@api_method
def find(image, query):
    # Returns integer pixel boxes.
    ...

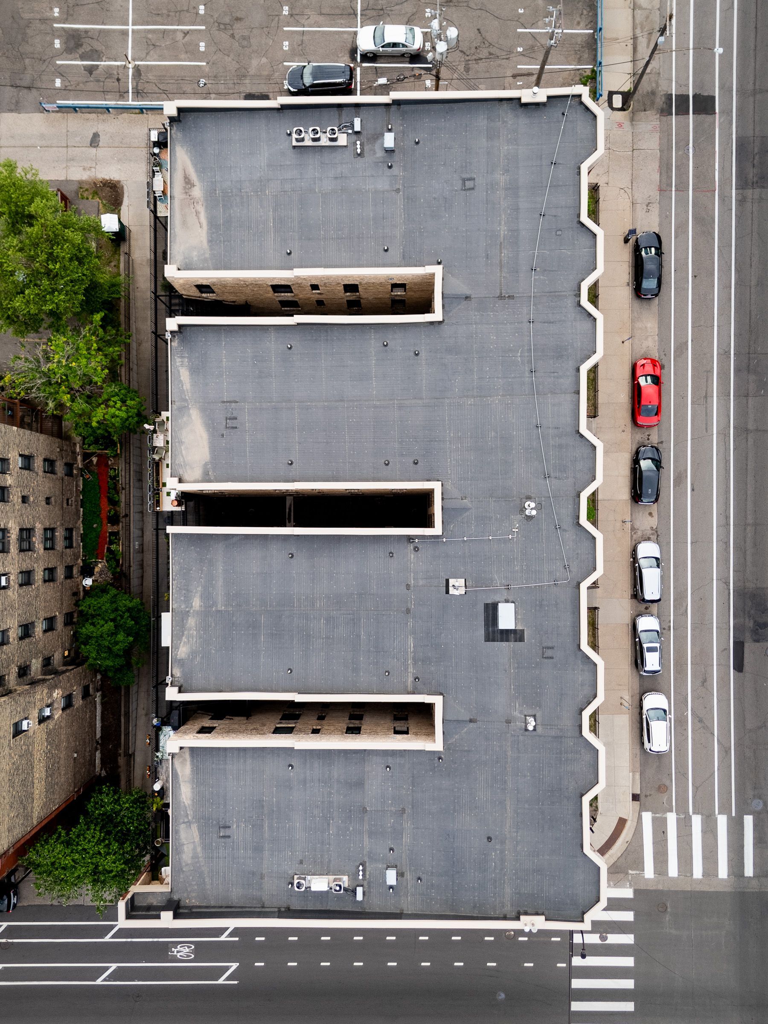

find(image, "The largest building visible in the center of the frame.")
[118,80,607,937]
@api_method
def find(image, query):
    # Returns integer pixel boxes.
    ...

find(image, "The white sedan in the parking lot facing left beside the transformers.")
[356,20,423,57]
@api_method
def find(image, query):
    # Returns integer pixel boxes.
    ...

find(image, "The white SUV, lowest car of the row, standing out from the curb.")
[640,690,674,755]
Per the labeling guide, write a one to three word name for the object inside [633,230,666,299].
car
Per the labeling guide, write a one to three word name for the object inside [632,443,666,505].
car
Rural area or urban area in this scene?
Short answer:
urban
